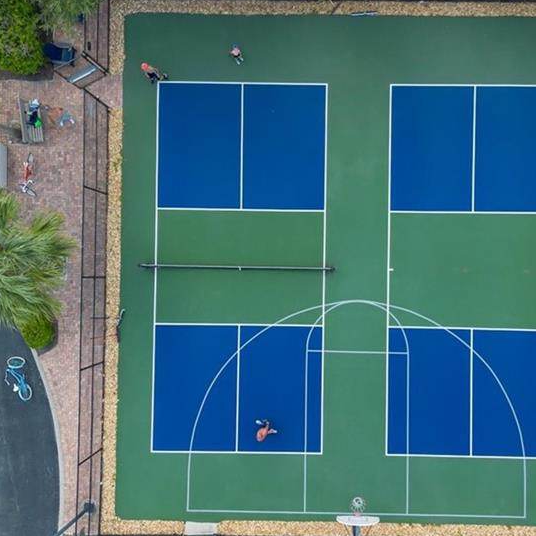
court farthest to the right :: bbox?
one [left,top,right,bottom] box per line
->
[386,84,536,459]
